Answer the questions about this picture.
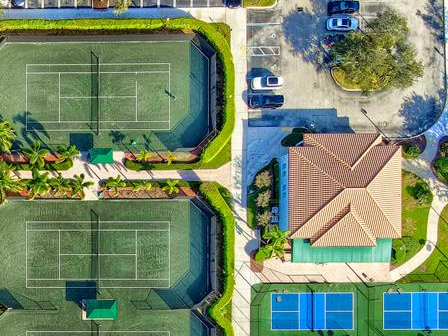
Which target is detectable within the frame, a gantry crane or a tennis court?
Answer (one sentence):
There is a tennis court in the scene.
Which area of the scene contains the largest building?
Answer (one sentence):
The largest building sits in the right section of the image.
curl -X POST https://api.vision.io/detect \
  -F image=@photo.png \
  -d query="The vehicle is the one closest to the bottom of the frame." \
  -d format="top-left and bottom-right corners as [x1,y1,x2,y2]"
[249,92,284,107]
